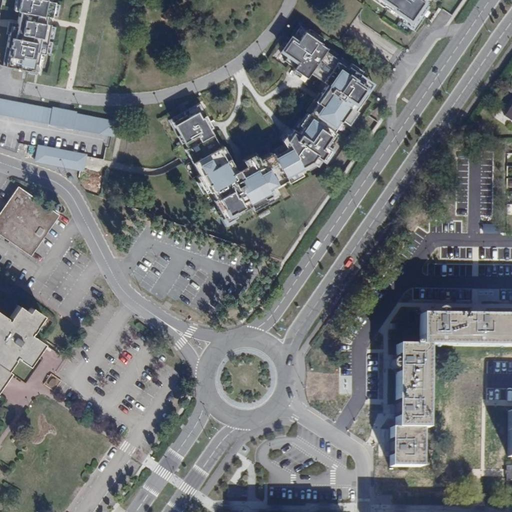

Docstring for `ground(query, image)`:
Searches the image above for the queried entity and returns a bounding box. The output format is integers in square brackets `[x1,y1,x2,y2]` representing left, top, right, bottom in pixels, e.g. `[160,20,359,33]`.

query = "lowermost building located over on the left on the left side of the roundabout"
[0,308,50,391]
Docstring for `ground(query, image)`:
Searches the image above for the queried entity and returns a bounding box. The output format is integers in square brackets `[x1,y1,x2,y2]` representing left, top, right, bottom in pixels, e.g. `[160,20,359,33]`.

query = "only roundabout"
[193,325,300,432]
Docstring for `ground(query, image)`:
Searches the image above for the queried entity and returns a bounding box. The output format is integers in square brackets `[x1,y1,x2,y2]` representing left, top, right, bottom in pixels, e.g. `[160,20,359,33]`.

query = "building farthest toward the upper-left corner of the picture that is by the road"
[6,0,60,78]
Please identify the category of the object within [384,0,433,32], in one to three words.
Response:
house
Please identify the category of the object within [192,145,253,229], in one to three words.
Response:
building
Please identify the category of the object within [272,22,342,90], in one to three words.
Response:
building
